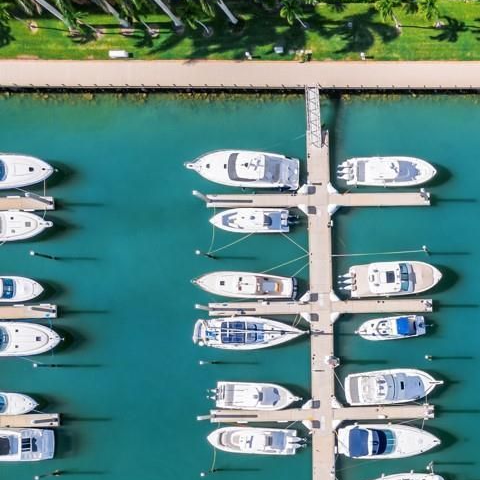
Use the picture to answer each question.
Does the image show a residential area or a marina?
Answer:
marina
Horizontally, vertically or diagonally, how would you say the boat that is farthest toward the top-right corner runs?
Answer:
horizontally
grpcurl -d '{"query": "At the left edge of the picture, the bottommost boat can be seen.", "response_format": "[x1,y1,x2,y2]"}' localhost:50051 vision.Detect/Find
[0,429,56,461]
